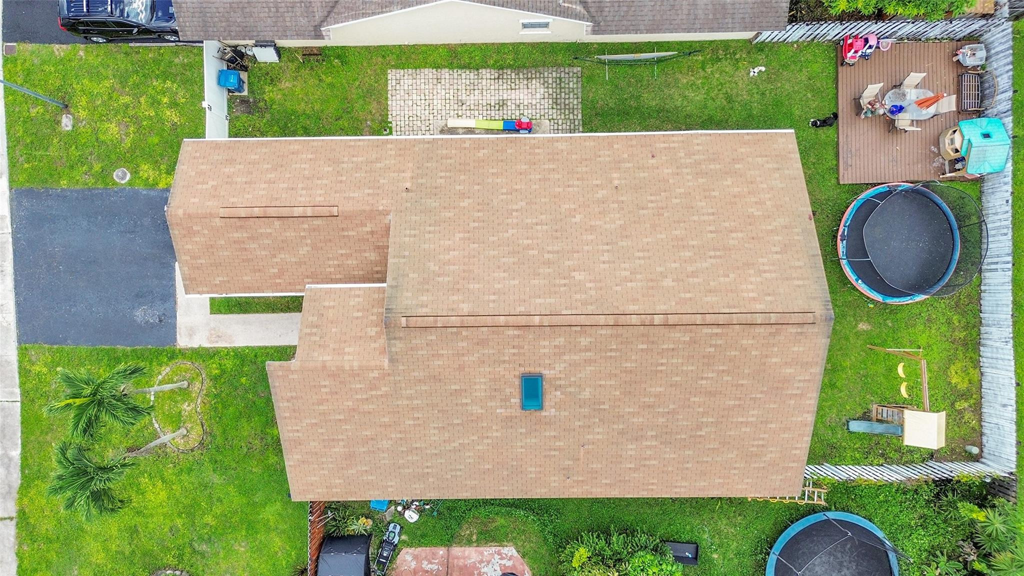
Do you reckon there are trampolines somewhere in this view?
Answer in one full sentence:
Yes, a trampoline is visible in the scene.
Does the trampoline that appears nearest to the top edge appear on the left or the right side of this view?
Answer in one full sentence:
You can find the trampoline that appears nearest to the top edge on the right side of the picture.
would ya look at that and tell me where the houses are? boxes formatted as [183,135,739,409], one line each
[162,128,835,501]
[172,0,791,48]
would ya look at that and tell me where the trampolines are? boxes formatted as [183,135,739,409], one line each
[758,504,915,576]
[827,177,990,305]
